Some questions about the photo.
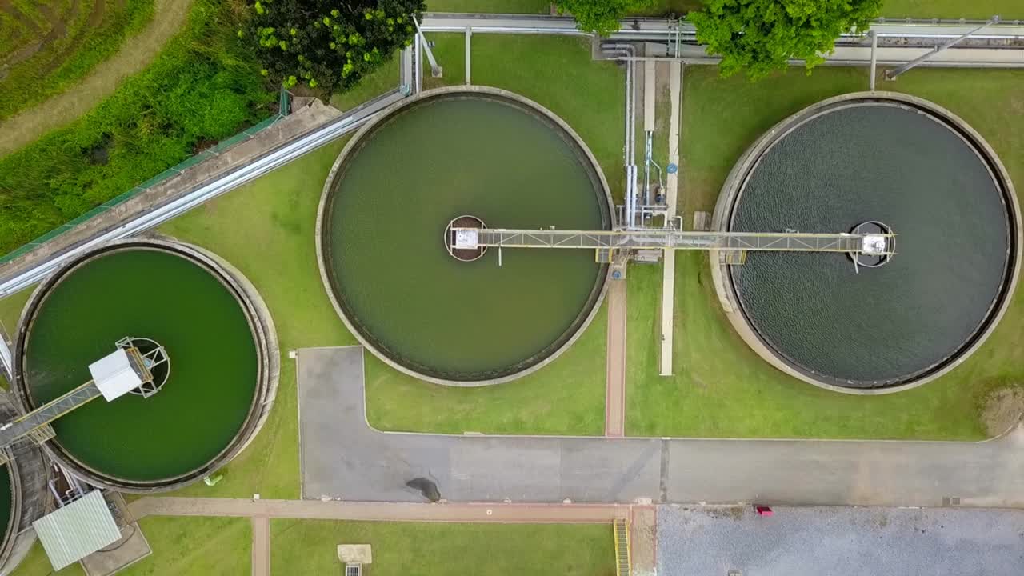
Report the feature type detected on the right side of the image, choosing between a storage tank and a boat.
storage tank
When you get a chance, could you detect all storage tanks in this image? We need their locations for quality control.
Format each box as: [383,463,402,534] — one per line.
[711,92,1022,393]
[0,399,45,576]
[16,239,279,490]
[316,86,615,386]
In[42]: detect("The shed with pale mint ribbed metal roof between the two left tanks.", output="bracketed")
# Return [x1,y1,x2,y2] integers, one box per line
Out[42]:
[32,488,134,572]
